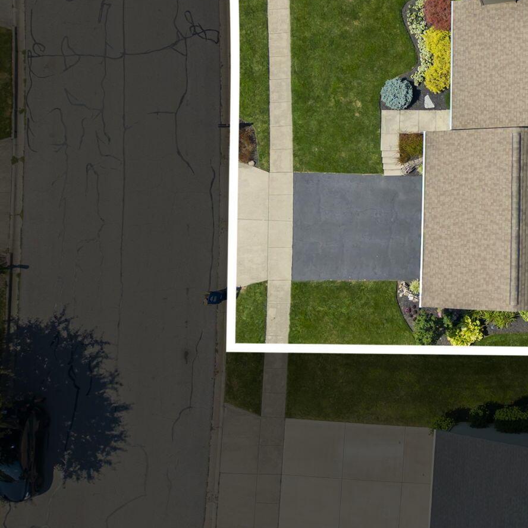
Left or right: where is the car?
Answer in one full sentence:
You can find the car on the left side of the picture.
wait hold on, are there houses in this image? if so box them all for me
[427,419,528,528]
[417,0,528,313]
